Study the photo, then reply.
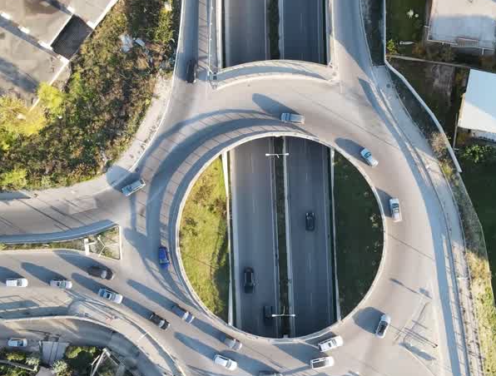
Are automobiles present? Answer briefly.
Yes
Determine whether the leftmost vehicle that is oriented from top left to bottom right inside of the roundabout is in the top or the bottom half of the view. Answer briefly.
bottom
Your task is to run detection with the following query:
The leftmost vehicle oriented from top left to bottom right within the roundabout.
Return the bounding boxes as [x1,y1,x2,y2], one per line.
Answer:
[148,310,172,330]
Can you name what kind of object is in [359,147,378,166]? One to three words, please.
car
